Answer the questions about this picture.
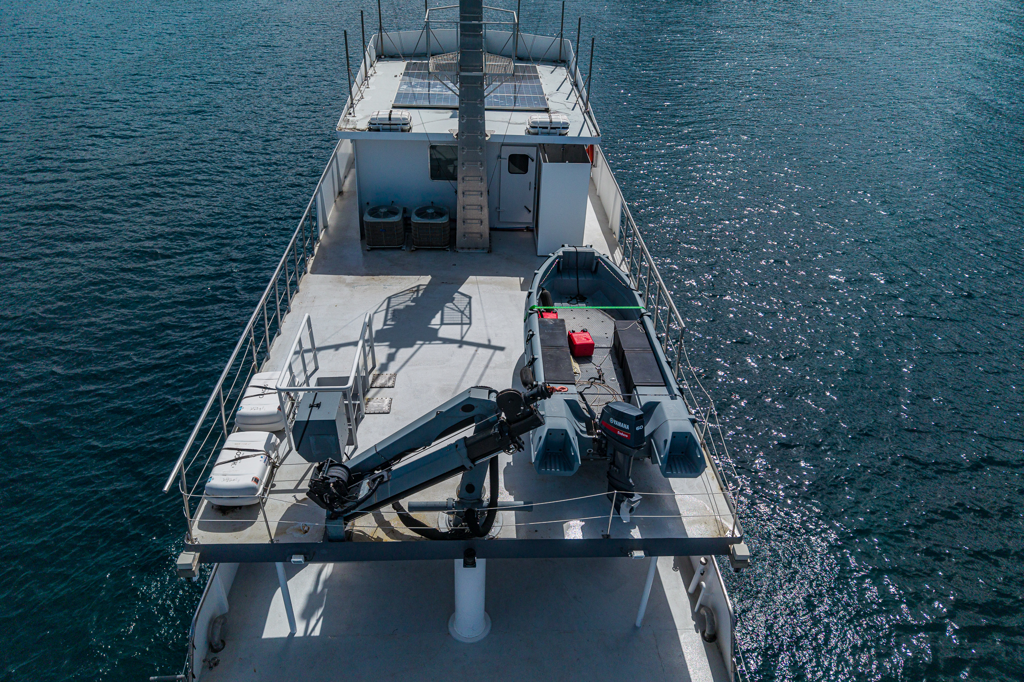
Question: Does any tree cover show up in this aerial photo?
No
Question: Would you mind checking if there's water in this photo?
Yes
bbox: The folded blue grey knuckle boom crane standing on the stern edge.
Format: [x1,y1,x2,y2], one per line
[298,380,558,543]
